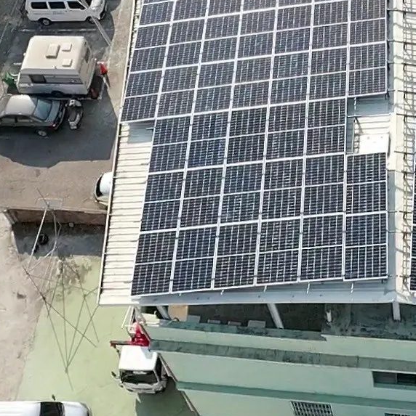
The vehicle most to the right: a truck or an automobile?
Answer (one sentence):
It turns out the vehicle most to the right is a truck.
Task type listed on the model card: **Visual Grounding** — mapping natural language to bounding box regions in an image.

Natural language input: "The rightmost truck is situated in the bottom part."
[114,327,174,401]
